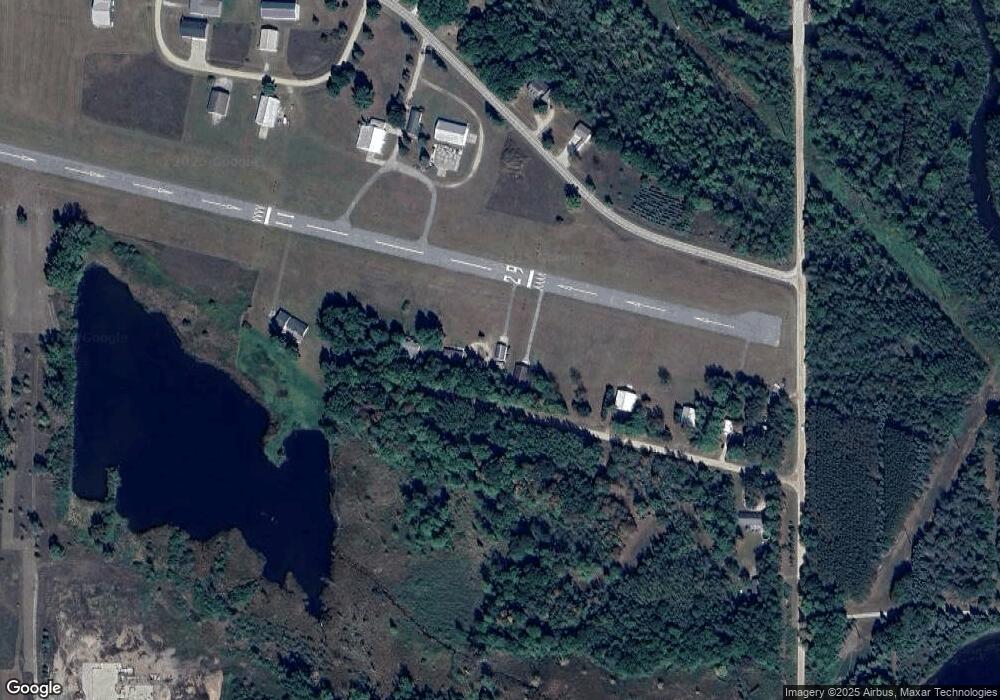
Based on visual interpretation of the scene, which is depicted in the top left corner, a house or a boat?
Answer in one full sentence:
Visible in the top left corner is a house.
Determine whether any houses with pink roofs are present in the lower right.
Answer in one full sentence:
No, the scene shows no house with a pink roof in the lower right.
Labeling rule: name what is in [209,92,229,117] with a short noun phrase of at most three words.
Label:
house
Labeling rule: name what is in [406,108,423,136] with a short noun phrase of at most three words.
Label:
shed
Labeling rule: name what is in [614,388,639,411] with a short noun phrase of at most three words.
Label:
barn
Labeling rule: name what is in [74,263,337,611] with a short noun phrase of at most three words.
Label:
pond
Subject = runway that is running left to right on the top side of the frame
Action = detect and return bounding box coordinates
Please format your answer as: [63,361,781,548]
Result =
[0,144,782,348]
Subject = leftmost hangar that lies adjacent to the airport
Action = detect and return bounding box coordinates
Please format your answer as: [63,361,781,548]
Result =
[356,118,387,154]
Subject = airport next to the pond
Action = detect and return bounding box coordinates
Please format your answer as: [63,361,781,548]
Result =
[0,144,782,348]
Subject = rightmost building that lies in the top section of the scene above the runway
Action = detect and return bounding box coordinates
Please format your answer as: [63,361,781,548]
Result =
[566,122,593,144]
